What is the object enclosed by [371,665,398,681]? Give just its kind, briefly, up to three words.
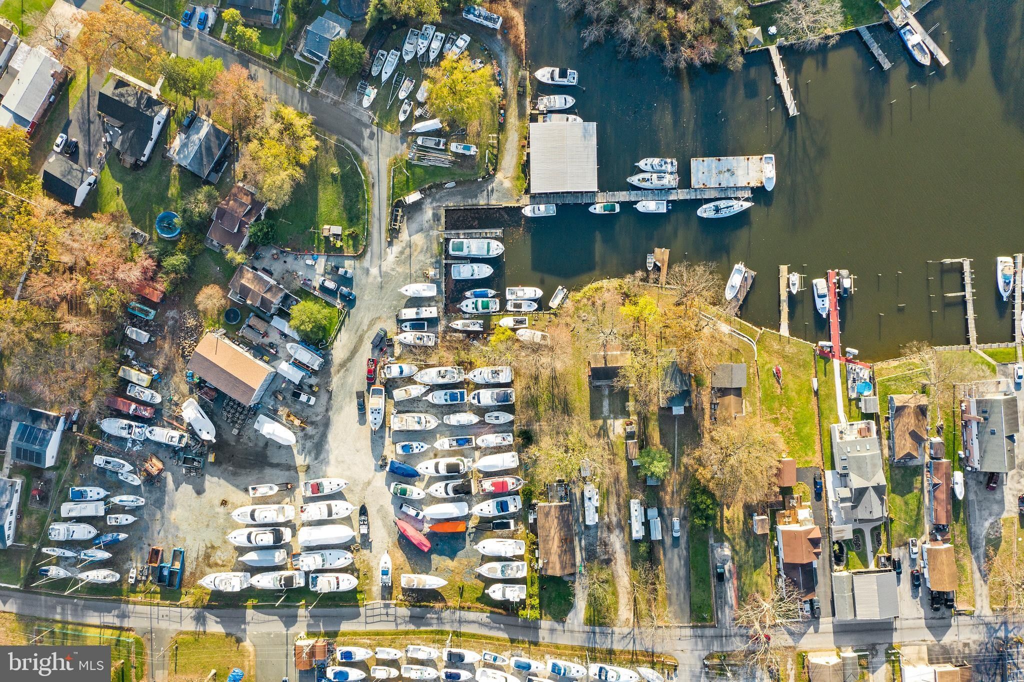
boat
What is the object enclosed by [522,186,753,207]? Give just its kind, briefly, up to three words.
pier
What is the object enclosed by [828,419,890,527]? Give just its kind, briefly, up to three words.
house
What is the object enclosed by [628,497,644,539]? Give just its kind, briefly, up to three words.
camper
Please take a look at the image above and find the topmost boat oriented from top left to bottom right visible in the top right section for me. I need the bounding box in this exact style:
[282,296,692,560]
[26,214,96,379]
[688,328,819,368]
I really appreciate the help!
[898,26,930,65]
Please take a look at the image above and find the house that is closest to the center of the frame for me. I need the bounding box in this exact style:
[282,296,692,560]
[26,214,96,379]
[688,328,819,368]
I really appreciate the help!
[589,351,633,389]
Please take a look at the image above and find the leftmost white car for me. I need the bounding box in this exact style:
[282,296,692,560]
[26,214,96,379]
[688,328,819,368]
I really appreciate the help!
[55,134,69,152]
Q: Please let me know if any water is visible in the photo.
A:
Yes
